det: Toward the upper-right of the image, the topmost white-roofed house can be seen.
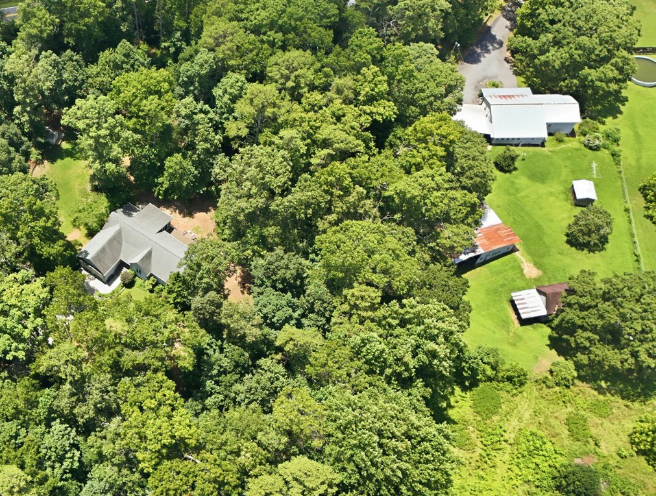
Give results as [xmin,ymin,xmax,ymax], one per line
[454,87,582,150]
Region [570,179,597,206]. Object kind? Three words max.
shed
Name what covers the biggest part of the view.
trees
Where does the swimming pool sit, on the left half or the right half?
right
